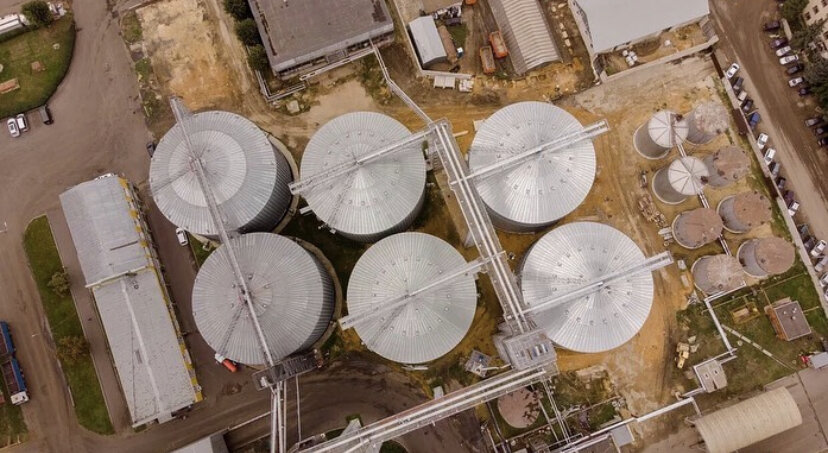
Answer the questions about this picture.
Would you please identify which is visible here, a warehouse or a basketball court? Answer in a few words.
warehouse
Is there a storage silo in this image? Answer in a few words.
Yes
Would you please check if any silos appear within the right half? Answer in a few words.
Yes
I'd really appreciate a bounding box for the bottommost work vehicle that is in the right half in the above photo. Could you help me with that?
[675,344,695,372]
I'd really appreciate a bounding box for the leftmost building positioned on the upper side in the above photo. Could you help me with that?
[249,0,395,83]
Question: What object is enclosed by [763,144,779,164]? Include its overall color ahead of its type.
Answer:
white car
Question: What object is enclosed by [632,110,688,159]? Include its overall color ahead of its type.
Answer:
white silo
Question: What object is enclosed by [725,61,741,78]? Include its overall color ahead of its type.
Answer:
white car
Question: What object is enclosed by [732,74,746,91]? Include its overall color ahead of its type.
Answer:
gray car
